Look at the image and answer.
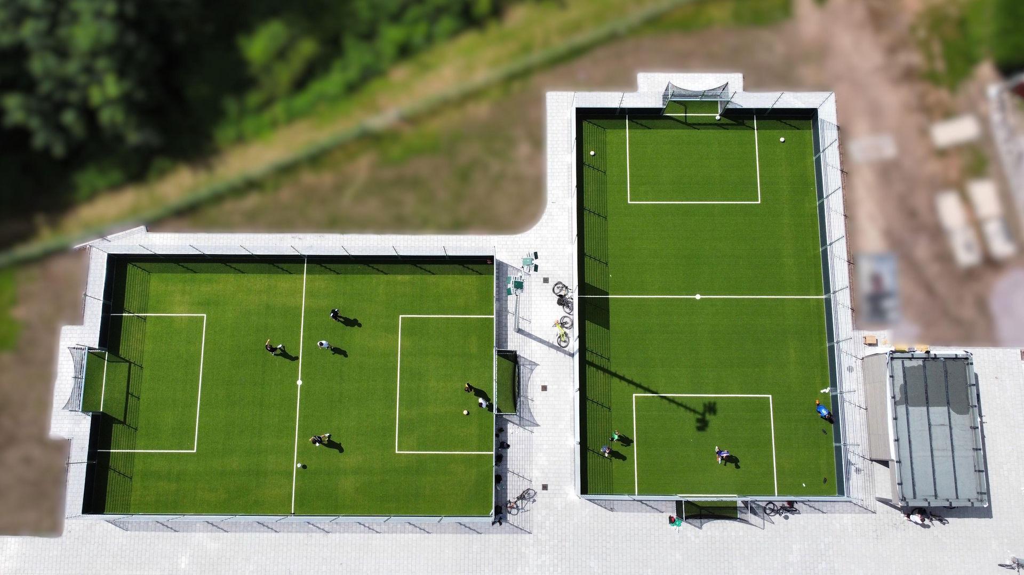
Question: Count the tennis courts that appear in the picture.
zero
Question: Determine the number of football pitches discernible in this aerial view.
two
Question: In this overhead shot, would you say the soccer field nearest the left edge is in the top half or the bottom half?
bottom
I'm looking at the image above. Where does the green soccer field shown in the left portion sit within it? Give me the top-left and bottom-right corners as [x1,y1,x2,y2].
[83,258,513,513]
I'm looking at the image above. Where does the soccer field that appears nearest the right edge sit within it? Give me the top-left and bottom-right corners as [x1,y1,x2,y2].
[573,99,837,516]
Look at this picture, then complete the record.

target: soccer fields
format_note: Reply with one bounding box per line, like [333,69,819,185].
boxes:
[573,99,837,516]
[83,258,513,513]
